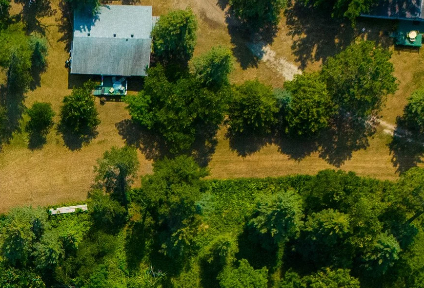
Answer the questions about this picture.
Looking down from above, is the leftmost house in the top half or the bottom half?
top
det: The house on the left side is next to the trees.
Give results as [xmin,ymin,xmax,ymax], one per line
[69,5,161,95]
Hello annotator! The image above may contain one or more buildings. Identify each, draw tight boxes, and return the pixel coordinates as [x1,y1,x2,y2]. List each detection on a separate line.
[69,5,161,95]
[351,0,424,48]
